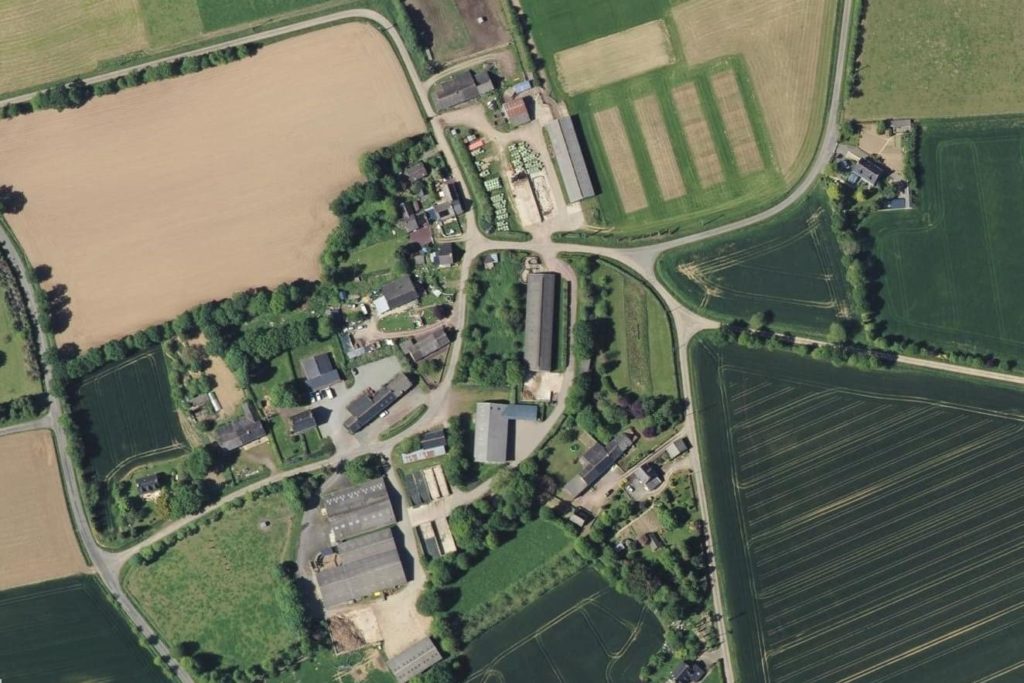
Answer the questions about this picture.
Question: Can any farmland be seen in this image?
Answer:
Yes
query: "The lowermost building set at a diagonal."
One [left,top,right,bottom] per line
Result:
[387,637,442,683]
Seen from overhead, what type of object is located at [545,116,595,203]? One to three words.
building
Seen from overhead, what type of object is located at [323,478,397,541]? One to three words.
barn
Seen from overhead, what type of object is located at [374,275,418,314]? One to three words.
house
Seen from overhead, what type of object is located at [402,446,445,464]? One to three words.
shed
